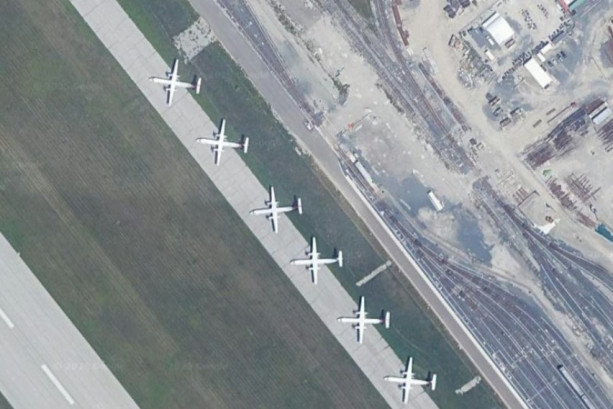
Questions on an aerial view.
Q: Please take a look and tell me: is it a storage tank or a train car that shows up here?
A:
train car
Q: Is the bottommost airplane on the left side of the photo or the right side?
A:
right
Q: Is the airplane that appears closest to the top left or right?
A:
left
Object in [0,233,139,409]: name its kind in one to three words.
runway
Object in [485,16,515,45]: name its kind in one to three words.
building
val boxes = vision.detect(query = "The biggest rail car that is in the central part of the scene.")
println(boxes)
[356,163,374,182]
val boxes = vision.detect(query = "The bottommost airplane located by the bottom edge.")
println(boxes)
[384,357,436,404]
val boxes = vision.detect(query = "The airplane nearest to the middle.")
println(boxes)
[250,186,302,234]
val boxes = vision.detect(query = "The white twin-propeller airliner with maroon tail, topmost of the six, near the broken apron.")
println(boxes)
[150,59,201,105]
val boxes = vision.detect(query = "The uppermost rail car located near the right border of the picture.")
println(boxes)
[560,368,585,396]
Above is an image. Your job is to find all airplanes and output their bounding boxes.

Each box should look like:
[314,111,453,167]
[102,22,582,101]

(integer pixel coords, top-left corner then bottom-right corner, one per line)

[384,357,436,404]
[338,296,389,344]
[250,186,302,234]
[150,59,201,105]
[290,238,342,284]
[196,119,247,166]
